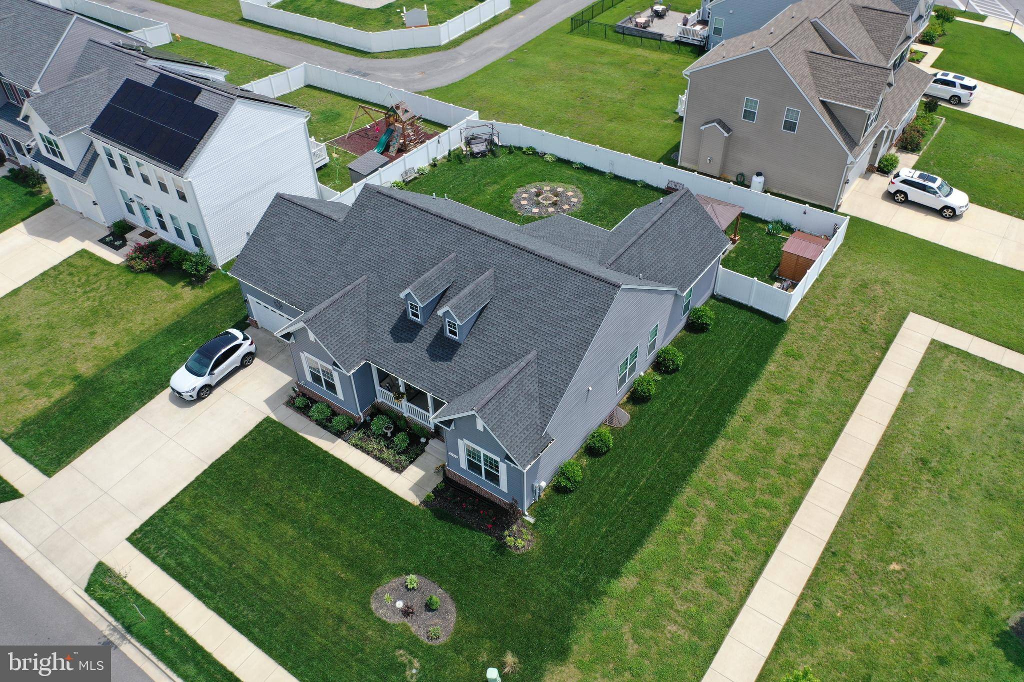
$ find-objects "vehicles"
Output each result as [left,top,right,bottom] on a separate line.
[882,170,974,224]
[925,68,983,103]
[170,331,265,406]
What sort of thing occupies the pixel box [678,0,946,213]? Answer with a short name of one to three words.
house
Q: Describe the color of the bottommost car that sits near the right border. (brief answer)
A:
white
